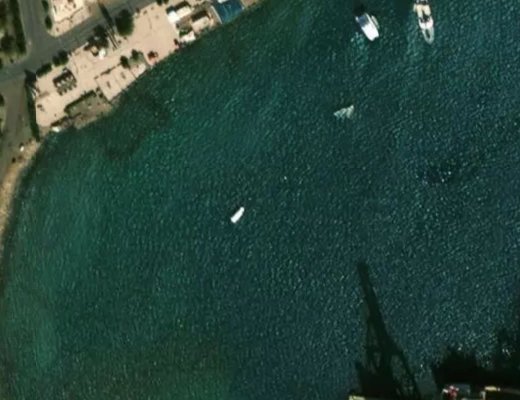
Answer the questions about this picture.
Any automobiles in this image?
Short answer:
No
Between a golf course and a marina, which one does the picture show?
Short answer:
marina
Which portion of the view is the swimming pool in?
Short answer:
top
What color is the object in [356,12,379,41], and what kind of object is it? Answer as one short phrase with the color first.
white boat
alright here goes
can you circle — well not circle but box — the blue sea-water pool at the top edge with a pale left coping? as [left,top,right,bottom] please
[210,0,247,26]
